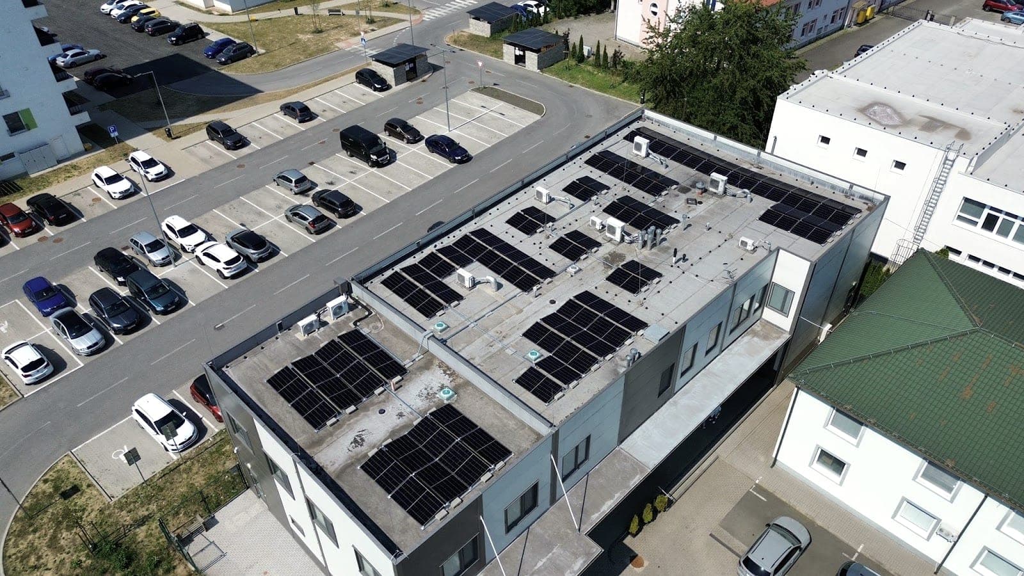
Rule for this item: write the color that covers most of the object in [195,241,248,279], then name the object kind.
white car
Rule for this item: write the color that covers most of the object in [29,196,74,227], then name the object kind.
black car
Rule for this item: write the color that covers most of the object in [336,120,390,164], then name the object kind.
black van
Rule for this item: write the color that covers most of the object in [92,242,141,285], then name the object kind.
black car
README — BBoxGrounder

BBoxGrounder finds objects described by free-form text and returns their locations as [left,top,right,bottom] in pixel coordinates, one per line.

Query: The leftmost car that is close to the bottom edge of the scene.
[728,508,814,576]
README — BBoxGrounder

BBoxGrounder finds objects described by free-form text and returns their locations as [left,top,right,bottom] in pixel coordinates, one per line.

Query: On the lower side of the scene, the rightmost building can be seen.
[772,246,1024,576]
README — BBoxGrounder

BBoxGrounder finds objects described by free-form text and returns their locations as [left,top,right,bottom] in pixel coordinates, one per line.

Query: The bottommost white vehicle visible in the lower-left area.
[129,389,201,454]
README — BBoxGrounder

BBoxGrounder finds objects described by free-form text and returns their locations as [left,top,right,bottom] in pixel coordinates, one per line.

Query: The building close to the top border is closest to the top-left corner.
[0,0,108,185]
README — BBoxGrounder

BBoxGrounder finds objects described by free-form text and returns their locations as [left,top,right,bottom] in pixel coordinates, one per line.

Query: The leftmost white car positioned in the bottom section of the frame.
[0,338,58,389]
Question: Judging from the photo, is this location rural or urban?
urban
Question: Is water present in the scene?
No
